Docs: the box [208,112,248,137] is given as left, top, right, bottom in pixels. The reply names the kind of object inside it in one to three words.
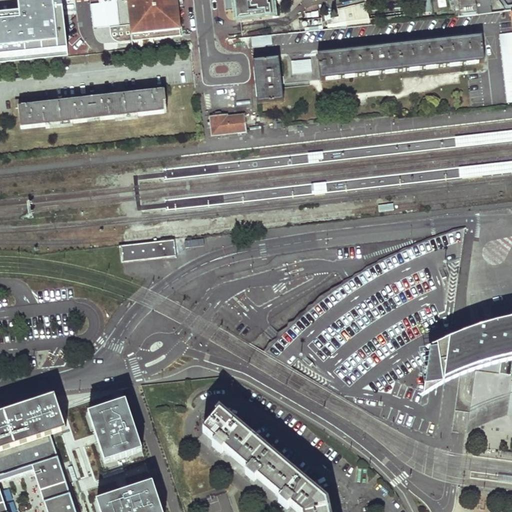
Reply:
house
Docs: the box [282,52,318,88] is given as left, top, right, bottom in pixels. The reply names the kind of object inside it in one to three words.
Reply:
building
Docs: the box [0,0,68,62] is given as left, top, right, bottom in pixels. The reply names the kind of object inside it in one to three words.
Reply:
building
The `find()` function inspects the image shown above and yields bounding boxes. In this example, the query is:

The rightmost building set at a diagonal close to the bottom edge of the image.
[201,404,331,512]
